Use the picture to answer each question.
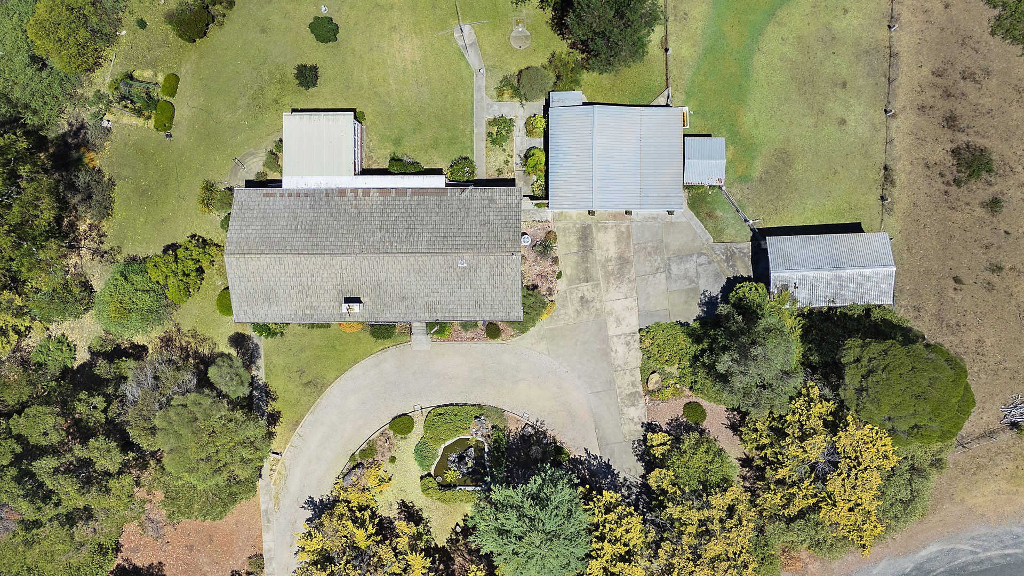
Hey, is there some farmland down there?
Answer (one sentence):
Yes, there is farmland in the image.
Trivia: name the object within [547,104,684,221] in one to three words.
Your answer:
building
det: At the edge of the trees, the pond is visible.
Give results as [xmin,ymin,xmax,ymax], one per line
[433,435,490,488]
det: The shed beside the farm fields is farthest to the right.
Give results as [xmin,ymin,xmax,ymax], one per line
[754,232,897,308]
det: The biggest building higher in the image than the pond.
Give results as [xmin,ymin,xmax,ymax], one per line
[223,111,523,324]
